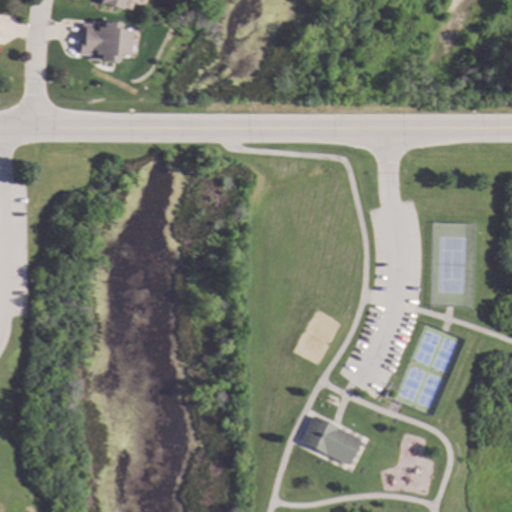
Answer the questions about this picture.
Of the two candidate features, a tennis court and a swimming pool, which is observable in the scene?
tennis court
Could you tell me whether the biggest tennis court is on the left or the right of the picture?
right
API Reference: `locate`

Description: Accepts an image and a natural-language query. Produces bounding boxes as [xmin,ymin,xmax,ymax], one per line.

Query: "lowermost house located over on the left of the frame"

[81,20,140,62]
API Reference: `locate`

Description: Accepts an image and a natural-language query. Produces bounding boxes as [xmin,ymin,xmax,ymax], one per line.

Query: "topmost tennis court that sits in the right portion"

[430,223,476,307]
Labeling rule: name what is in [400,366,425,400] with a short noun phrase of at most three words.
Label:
sports court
